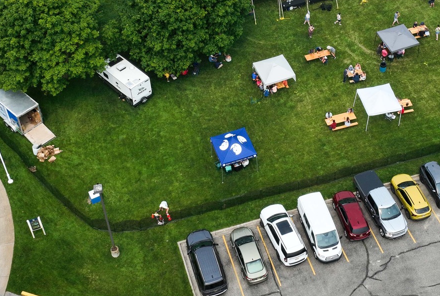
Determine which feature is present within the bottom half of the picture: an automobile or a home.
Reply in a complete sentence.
What appears within the bottom half of the picture is an automobile.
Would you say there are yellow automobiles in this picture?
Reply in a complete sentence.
Yes, a yellow automobile is visible in the scene.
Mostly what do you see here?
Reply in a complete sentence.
The scene is dominated by grass.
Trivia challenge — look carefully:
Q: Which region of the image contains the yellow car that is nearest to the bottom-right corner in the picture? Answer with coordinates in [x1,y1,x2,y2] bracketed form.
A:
[387,167,437,227]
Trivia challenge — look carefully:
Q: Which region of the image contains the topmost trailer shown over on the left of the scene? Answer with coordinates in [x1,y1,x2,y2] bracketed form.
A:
[95,55,157,113]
